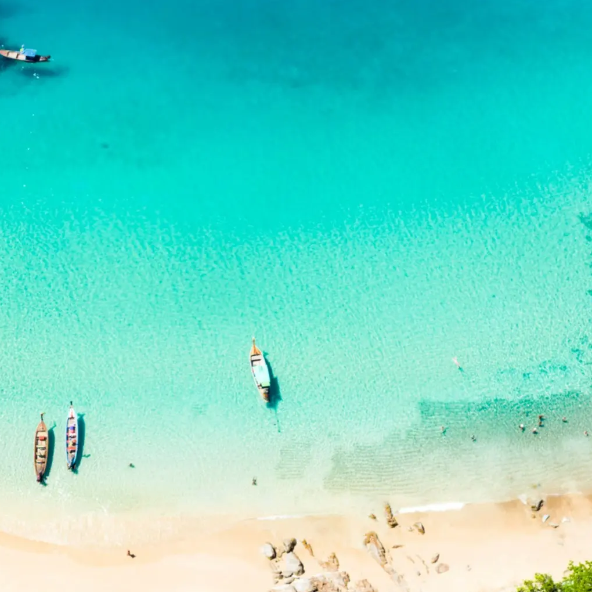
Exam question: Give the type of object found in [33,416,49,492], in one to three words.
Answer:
boat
